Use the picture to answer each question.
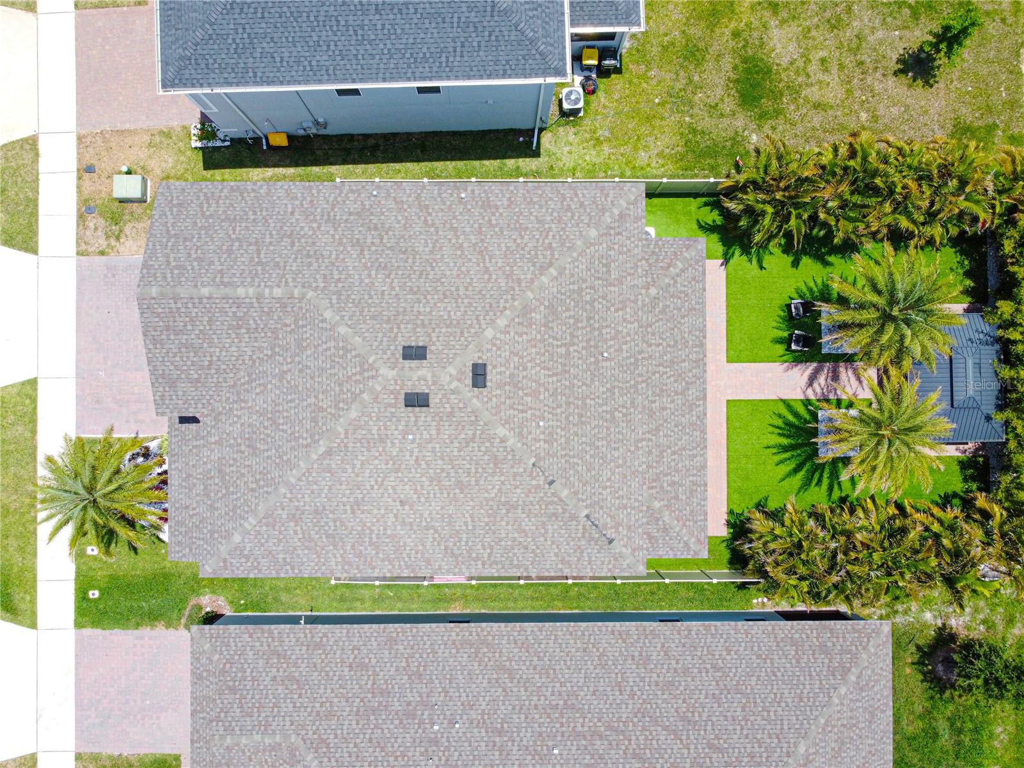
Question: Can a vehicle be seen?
No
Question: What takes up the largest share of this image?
buildings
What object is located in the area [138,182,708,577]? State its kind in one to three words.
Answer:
house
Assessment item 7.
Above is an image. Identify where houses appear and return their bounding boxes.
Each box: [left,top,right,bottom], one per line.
[190,609,891,768]
[138,182,708,577]
[152,0,648,151]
